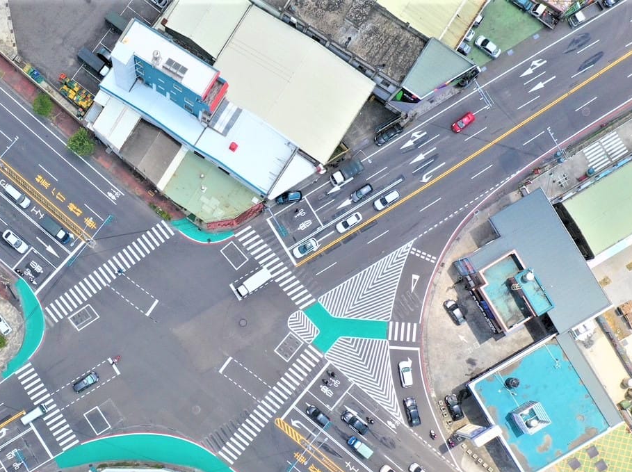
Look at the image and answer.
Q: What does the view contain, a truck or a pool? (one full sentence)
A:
It is a truck that can be seen here.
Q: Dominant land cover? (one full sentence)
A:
The largest share of the image is taken up by paved ground.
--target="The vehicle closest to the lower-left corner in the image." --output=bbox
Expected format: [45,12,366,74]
[19,401,55,428]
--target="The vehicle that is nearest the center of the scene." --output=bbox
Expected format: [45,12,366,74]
[290,236,320,259]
